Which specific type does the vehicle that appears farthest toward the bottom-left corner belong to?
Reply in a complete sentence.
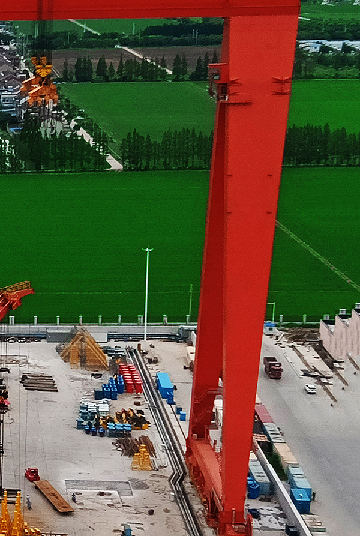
The vehicle that appears farthest toward the bottom-left corner appears to be a truck.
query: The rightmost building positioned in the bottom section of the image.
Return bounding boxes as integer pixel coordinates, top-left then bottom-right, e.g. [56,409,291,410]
[320,305,360,381]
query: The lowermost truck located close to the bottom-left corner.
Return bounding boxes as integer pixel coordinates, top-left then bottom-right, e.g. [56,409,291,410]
[22,459,74,511]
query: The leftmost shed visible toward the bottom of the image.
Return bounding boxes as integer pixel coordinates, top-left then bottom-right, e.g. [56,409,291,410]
[47,325,72,342]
